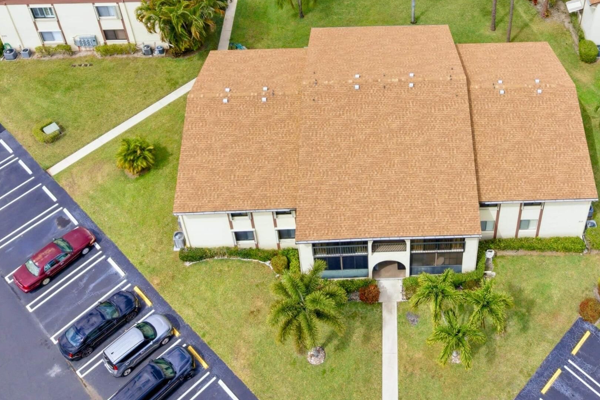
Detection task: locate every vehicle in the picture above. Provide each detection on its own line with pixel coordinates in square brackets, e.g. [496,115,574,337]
[50,289,143,367]
[105,348,193,400]
[95,309,179,383]
[9,229,99,295]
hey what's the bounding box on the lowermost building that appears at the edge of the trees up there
[173,25,597,276]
